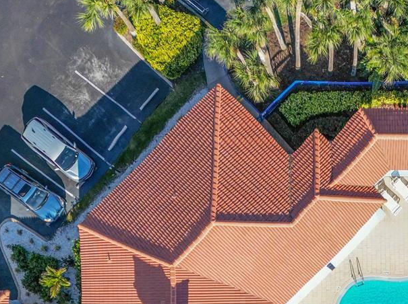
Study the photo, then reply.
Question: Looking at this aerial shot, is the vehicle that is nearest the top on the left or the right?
left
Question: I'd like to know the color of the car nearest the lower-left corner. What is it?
blue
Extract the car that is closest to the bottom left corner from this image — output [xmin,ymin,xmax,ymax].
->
[0,163,69,224]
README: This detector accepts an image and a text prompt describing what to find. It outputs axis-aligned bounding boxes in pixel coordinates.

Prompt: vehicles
[0,163,69,224]
[23,118,101,184]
